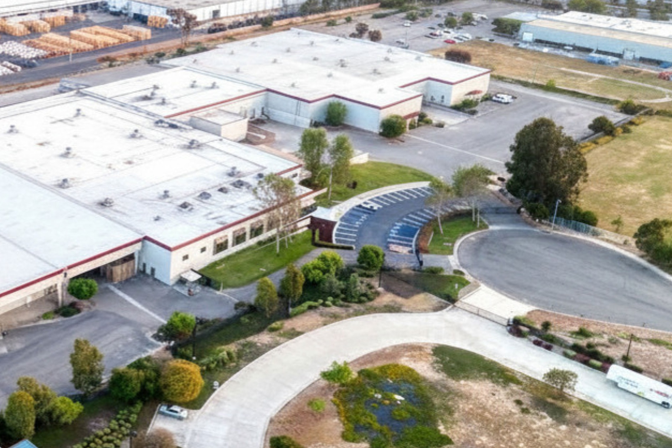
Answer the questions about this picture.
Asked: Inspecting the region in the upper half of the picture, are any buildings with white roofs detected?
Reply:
Yes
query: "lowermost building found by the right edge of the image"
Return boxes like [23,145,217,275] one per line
[516,14,672,74]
